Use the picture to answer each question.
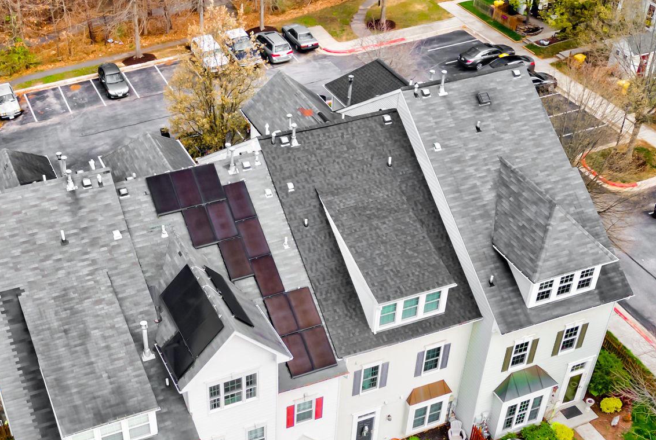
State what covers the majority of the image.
buildings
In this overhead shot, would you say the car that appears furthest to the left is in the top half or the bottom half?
top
